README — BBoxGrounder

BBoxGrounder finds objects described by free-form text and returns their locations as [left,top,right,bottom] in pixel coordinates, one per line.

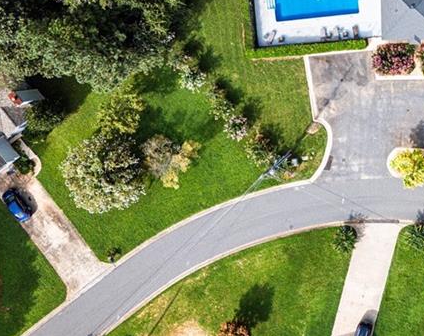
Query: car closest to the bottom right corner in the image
[355,322,372,336]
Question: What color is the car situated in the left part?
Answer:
blue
